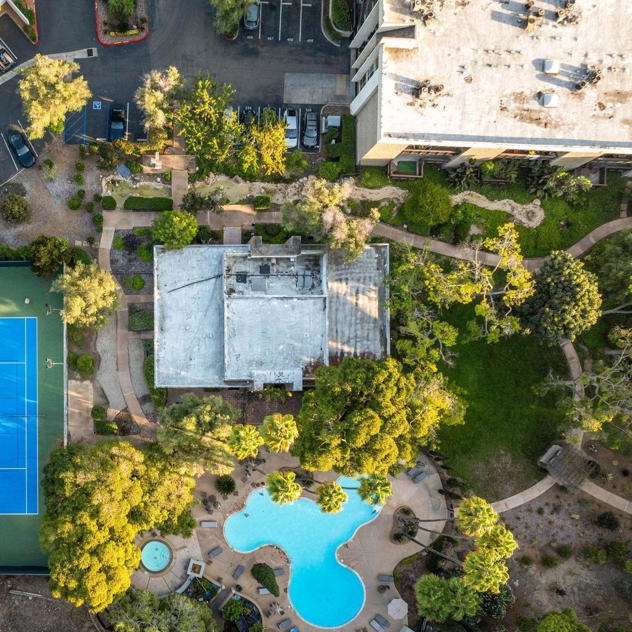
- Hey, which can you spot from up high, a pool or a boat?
pool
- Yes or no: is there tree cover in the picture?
Yes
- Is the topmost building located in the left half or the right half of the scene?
right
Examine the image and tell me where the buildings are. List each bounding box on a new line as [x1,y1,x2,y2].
[153,237,390,391]
[343,0,632,158]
